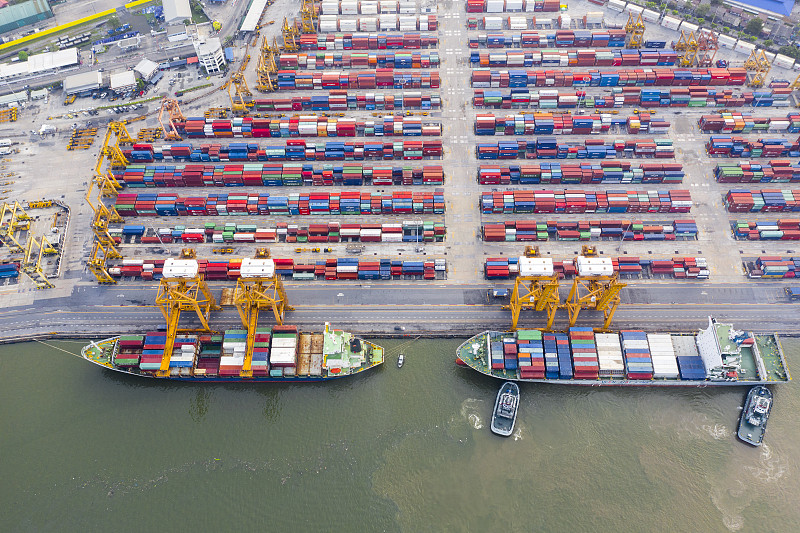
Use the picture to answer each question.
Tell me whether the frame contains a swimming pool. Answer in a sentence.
No, the scene contains no swimming pool.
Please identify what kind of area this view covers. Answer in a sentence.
This looks like a port.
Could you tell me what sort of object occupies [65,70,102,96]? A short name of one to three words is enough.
shed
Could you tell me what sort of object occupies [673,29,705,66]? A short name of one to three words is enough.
crane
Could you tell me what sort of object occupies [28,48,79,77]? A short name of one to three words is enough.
building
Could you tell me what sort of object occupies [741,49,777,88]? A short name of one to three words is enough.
crane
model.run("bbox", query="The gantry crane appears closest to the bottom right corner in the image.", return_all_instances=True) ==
[559,247,635,331]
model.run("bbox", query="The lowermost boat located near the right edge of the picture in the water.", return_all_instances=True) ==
[738,386,773,447]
